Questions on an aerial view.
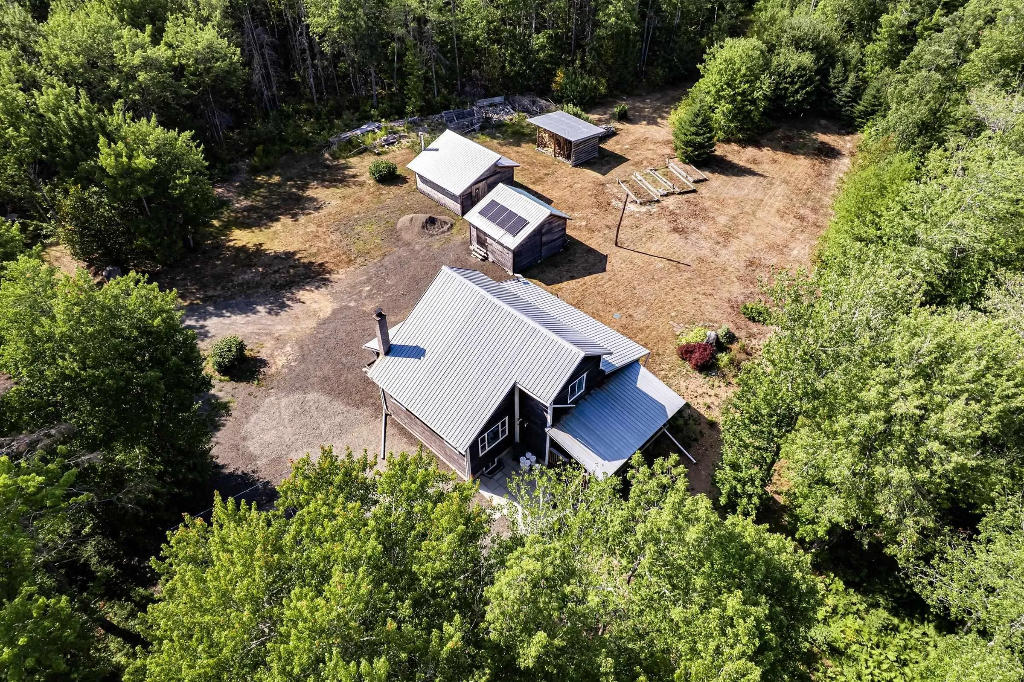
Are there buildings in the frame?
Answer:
Yes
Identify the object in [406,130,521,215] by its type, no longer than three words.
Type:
shed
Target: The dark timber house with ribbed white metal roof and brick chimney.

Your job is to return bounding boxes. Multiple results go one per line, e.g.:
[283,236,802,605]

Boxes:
[364,265,697,498]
